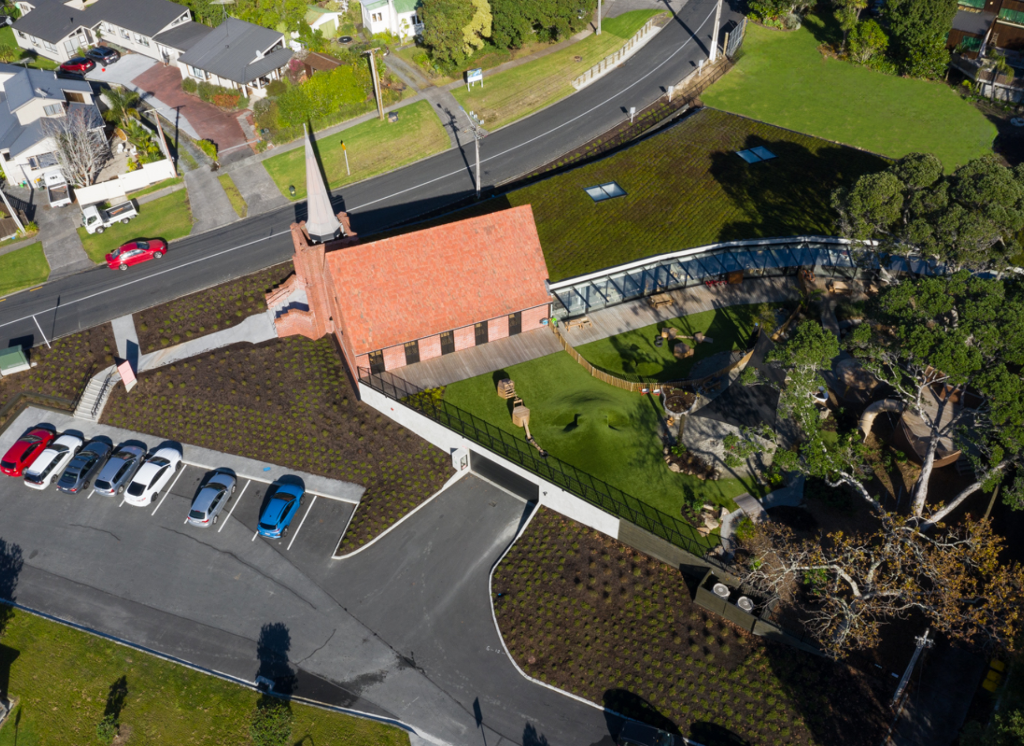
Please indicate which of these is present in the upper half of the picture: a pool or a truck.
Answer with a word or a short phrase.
truck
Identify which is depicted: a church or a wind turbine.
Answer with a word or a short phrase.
church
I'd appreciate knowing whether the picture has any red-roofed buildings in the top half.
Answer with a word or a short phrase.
Yes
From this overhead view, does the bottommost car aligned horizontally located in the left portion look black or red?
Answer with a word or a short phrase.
red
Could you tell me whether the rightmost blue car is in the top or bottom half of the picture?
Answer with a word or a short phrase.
bottom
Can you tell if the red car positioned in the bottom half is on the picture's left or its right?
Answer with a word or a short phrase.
left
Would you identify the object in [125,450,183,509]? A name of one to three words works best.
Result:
car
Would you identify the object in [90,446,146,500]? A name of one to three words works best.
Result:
car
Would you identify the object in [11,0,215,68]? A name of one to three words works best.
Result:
house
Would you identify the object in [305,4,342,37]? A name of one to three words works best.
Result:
building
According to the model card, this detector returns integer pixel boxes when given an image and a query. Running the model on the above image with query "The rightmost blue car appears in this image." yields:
[256,485,306,542]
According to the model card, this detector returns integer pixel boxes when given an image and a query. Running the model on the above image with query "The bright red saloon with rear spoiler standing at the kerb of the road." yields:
[106,239,167,269]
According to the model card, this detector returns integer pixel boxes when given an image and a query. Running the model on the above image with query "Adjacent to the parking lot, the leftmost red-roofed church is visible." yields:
[287,114,555,386]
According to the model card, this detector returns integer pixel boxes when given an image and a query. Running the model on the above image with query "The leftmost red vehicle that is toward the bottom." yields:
[0,429,53,480]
